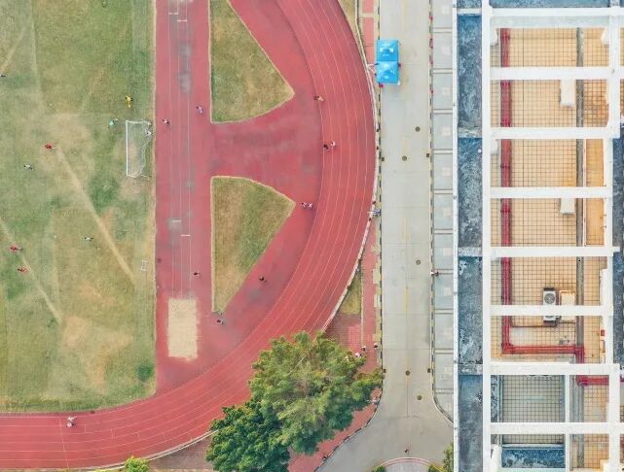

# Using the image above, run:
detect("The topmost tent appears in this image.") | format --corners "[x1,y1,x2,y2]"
[377,39,400,63]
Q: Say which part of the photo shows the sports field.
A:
left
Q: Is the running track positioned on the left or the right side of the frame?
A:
left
